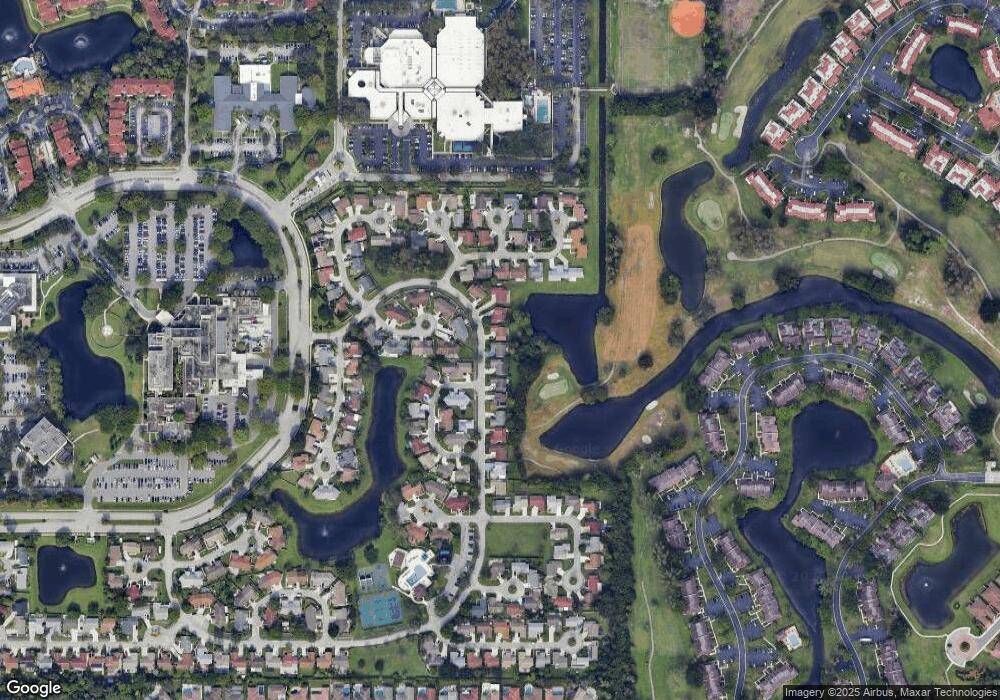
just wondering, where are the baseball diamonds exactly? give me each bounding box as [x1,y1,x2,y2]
[668,0,704,89]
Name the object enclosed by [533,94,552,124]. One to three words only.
swimming pool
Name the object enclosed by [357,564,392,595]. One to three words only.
sports court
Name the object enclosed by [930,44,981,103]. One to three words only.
pond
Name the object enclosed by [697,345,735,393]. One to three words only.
building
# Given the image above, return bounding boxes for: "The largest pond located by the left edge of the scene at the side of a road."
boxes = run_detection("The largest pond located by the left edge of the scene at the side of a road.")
[38,545,97,605]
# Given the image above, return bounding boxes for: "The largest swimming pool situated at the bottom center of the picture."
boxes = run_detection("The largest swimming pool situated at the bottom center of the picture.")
[389,548,438,590]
